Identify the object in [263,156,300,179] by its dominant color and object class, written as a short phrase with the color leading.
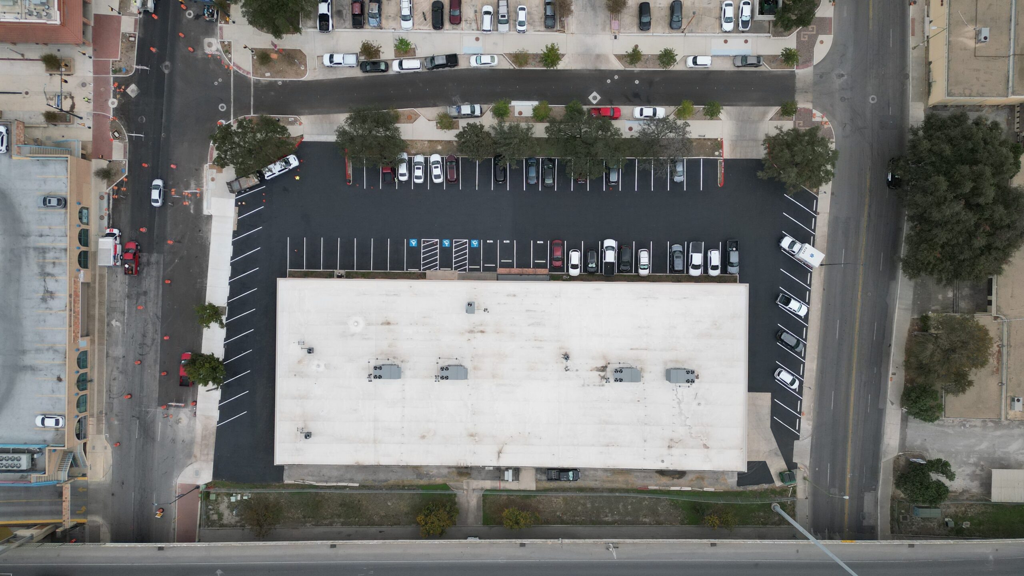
white truck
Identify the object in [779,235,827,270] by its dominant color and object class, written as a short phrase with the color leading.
white van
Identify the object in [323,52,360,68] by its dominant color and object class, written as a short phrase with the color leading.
white vehicle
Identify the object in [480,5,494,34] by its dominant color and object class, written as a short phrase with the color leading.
white car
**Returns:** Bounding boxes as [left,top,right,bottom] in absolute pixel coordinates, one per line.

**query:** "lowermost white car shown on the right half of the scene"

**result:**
[772,367,800,390]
